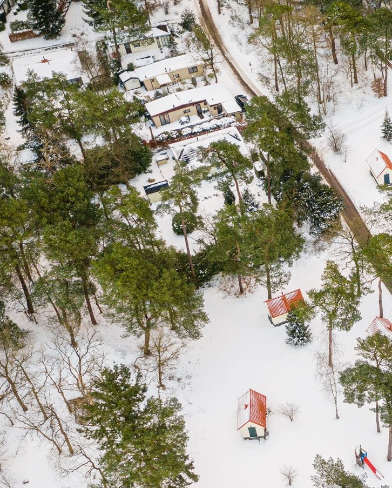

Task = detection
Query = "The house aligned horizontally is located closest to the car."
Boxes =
[143,84,238,129]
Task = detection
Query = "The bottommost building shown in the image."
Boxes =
[237,388,267,438]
